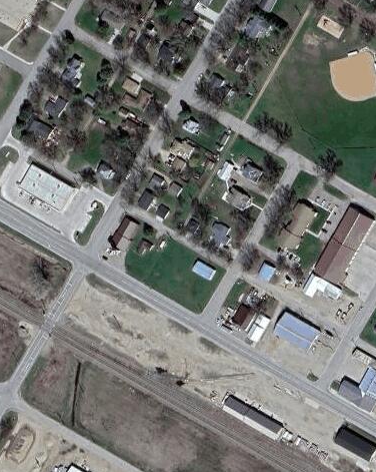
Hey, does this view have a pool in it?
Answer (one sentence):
No, there is no pool in the image.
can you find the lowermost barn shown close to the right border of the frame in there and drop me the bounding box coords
[334,425,376,462]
